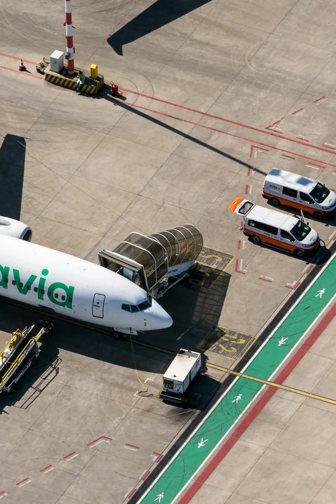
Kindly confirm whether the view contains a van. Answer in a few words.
Yes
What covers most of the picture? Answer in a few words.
paved ground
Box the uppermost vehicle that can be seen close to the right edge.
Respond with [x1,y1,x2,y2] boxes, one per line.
[263,167,336,218]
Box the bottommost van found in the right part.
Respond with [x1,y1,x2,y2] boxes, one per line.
[230,197,321,261]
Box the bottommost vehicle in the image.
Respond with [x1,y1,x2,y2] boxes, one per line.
[0,313,52,396]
